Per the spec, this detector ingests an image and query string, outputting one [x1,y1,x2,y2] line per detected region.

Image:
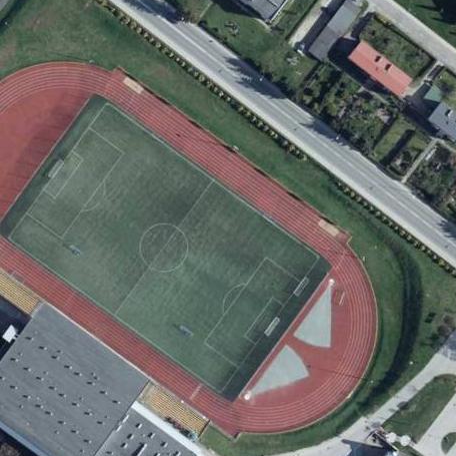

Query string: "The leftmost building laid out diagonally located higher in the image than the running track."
[307,0,363,61]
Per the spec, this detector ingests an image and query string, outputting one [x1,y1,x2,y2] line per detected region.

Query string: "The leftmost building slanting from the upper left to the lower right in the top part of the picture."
[348,40,412,97]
